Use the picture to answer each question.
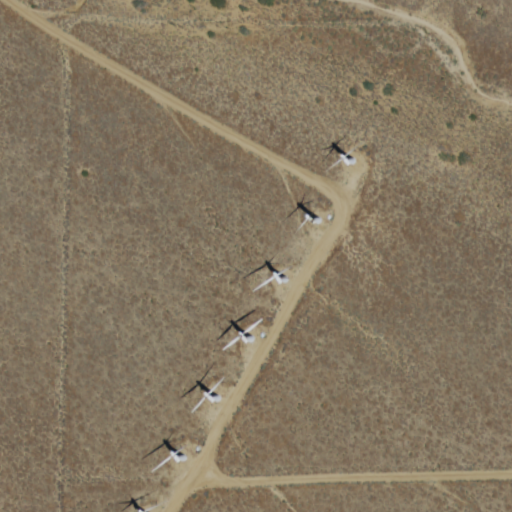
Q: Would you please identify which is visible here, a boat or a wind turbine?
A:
wind turbine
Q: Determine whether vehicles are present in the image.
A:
No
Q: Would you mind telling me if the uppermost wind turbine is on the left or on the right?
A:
right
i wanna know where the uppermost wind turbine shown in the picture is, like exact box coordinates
[330,140,362,167]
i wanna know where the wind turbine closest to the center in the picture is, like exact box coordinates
[253,268,290,289]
